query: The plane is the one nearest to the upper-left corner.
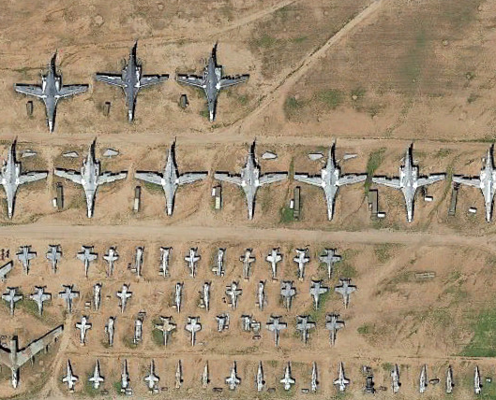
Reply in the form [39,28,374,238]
[15,58,89,133]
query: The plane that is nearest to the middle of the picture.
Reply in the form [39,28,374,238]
[214,144,287,219]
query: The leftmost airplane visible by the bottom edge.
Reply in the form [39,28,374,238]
[0,325,62,388]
